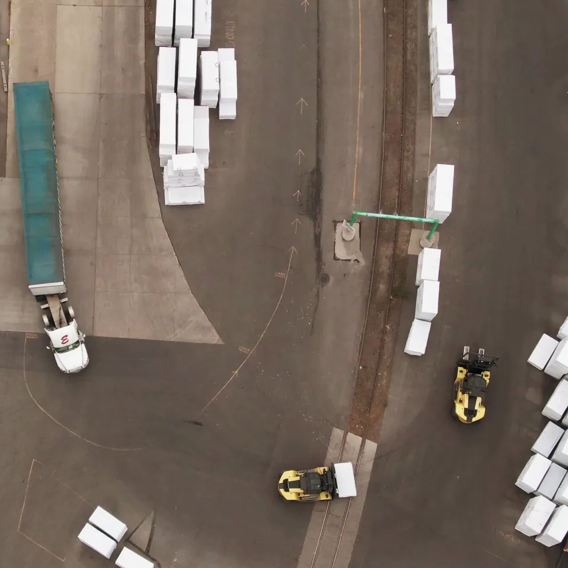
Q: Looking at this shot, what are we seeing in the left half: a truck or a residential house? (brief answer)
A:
truck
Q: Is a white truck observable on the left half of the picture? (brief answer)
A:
Yes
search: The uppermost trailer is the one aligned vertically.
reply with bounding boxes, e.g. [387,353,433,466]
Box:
[14,80,68,296]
